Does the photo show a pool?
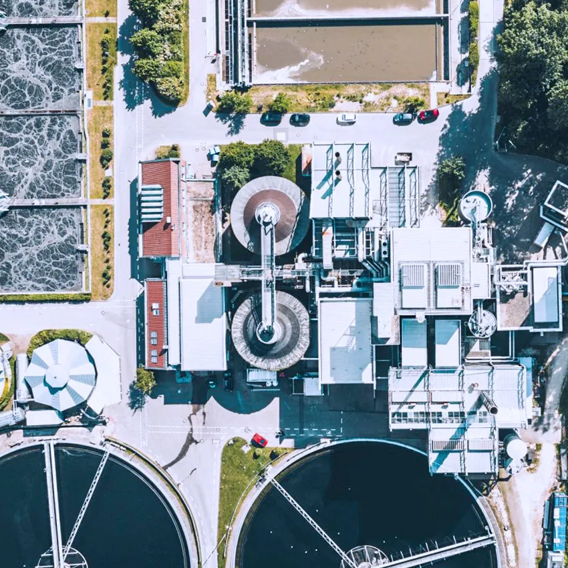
No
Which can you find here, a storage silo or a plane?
storage silo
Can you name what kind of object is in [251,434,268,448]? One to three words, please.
car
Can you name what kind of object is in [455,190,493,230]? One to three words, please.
storage tank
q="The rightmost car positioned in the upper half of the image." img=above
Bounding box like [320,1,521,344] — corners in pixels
[417,110,439,122]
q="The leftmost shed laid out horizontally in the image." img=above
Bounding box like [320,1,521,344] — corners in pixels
[26,409,69,425]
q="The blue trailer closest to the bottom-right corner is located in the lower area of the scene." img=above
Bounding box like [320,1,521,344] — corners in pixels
[550,491,567,552]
